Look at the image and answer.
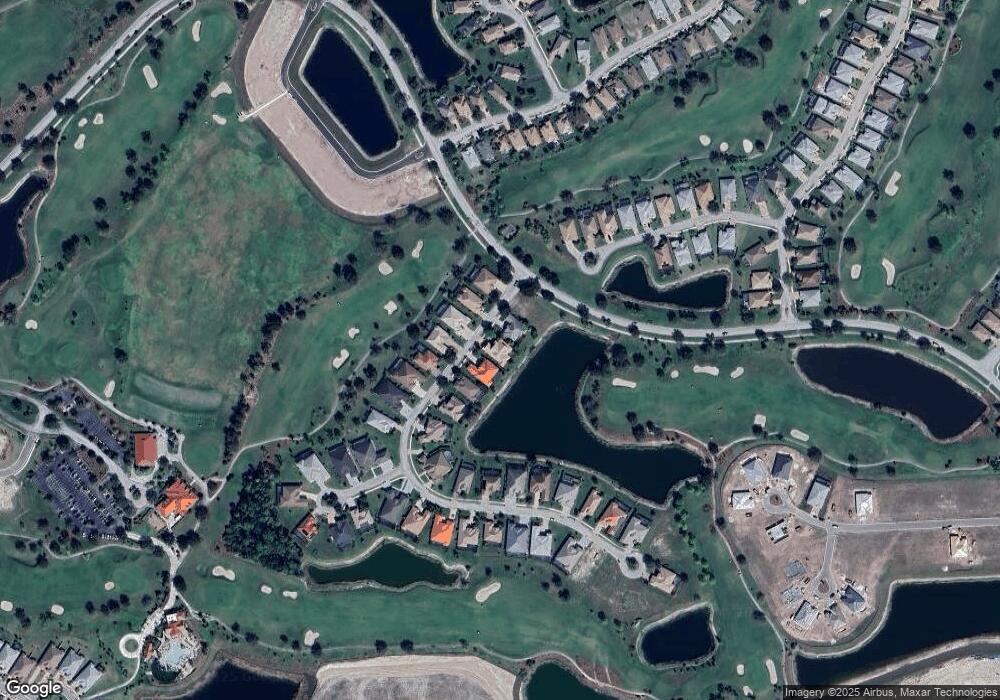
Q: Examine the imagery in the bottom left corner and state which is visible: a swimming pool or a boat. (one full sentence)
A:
There is a swimming pool in the bottom left corner.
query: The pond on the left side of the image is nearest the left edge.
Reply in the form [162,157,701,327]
[0,175,49,287]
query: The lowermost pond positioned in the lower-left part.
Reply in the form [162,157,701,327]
[182,660,300,700]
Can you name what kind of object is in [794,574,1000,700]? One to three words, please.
pond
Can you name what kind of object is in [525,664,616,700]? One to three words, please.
pond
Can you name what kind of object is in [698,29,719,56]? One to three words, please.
house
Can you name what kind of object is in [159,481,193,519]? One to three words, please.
building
